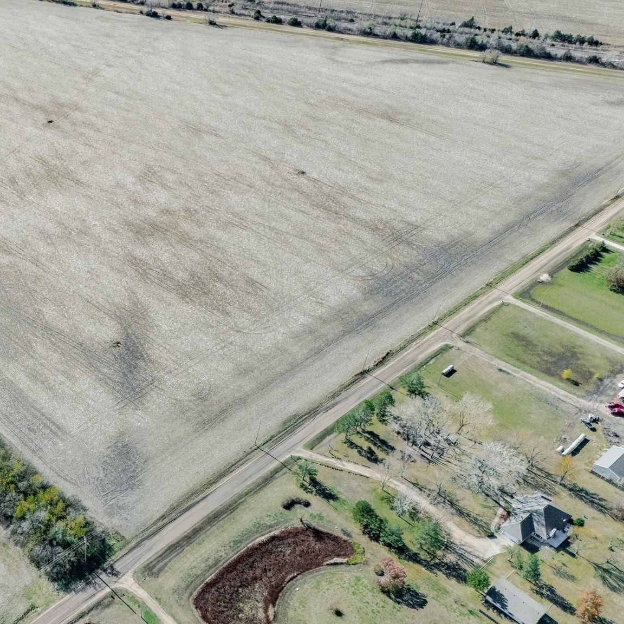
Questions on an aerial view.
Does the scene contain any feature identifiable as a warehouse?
No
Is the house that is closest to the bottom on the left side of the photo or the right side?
right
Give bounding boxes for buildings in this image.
[590,446,624,487]
[496,483,577,548]
[485,577,548,624]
